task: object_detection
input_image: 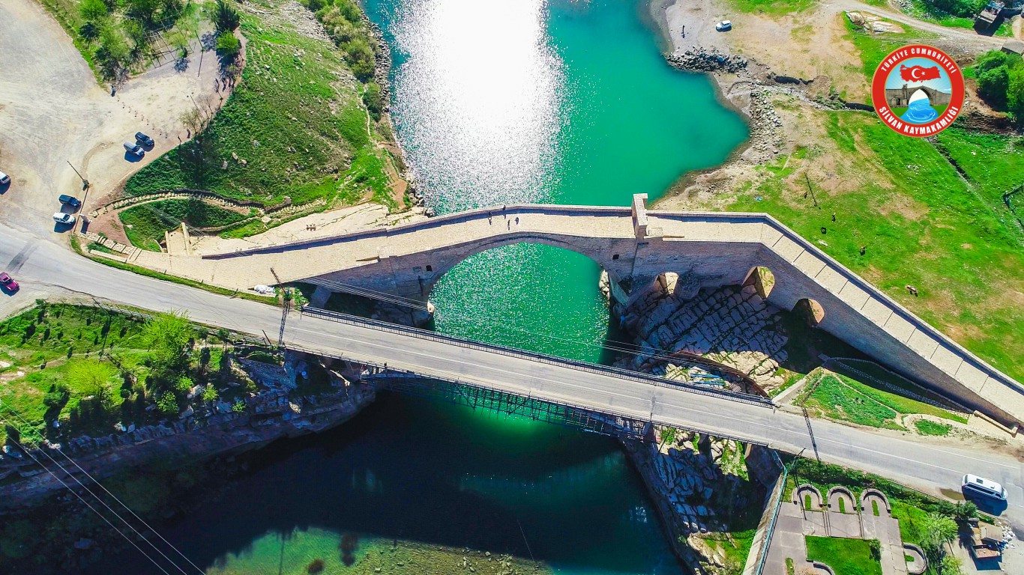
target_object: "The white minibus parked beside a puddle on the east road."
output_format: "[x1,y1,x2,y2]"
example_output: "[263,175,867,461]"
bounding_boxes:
[955,474,1009,504]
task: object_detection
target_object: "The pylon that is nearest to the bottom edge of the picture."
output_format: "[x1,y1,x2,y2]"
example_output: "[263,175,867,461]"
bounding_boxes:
[797,377,828,411]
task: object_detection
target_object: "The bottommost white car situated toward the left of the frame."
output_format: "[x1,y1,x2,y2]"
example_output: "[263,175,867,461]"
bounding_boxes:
[49,210,78,227]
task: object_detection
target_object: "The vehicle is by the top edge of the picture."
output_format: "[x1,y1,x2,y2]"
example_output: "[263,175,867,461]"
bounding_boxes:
[715,20,733,32]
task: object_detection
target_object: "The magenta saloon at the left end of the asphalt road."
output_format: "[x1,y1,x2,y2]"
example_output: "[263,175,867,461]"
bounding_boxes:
[0,274,22,294]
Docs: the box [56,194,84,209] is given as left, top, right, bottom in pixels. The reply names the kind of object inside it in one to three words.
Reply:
car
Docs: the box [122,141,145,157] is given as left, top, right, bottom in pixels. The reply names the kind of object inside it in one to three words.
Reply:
car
